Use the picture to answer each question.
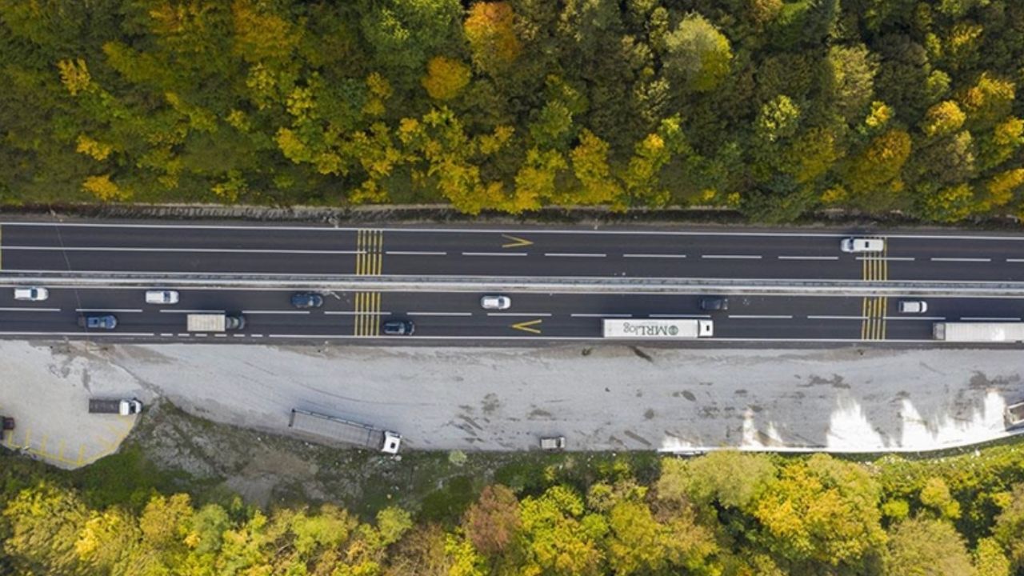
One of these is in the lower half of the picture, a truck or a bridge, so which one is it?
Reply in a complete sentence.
What appears in the lower half of the picture is a truck.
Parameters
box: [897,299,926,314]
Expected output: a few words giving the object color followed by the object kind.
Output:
white car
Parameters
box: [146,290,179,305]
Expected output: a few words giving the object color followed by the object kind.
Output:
white car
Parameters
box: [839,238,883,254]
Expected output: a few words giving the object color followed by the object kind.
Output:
white vehicle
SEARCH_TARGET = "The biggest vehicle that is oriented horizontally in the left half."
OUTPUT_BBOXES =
[289,409,402,456]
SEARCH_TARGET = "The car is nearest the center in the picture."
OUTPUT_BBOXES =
[481,295,511,310]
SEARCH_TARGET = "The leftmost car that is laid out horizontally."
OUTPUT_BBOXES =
[17,287,49,302]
